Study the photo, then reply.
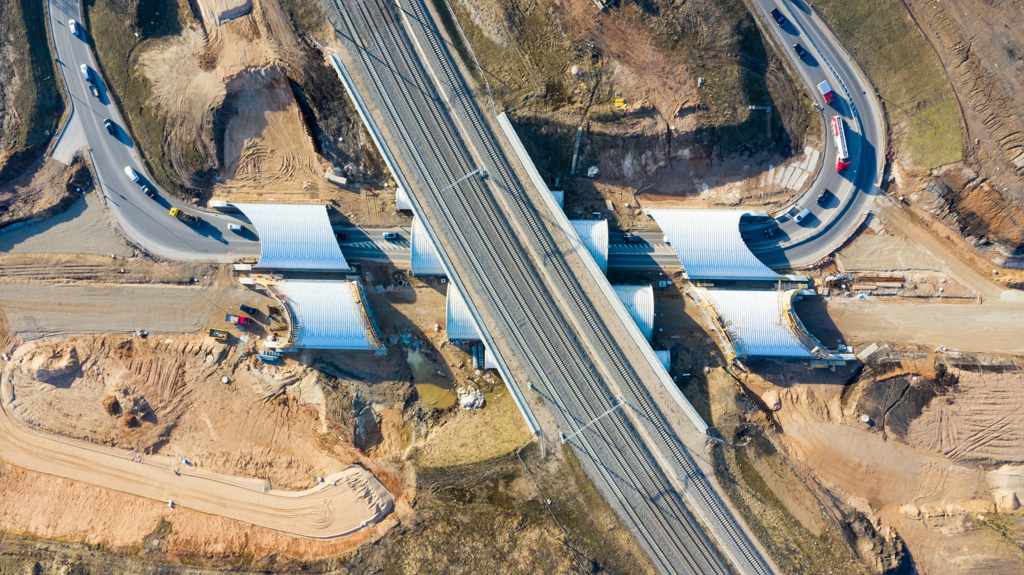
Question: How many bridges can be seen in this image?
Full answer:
Altogether the scene contains 4 bridges.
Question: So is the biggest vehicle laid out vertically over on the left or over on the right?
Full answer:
It is on the right.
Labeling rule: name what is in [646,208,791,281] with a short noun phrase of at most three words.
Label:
bridge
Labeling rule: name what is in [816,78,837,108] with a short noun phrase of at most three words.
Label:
truck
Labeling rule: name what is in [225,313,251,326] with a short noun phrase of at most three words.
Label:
vehicle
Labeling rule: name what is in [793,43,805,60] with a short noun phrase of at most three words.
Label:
vehicle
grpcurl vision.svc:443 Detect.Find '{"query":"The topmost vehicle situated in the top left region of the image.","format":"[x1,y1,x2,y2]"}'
[68,20,80,36]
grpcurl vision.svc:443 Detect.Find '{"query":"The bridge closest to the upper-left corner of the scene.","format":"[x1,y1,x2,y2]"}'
[228,201,355,274]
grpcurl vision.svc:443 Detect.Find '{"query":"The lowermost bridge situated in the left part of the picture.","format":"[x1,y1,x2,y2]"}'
[276,278,381,352]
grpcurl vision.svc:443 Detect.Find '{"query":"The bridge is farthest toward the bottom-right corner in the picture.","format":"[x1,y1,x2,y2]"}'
[706,289,818,359]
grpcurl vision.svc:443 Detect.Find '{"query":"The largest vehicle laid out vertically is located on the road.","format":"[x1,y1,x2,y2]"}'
[829,115,849,171]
